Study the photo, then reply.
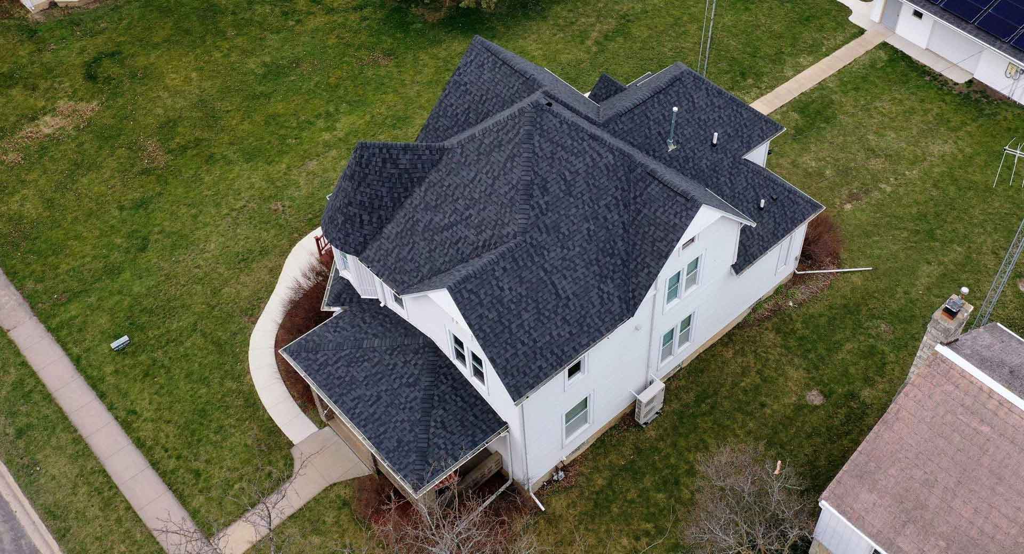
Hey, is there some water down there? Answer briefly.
No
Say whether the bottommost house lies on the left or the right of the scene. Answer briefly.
right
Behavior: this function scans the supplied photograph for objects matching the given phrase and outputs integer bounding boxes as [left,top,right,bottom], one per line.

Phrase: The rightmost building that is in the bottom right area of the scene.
[813,290,1024,554]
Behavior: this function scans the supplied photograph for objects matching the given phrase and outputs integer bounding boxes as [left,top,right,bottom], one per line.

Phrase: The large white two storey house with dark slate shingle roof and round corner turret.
[276,34,872,541]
